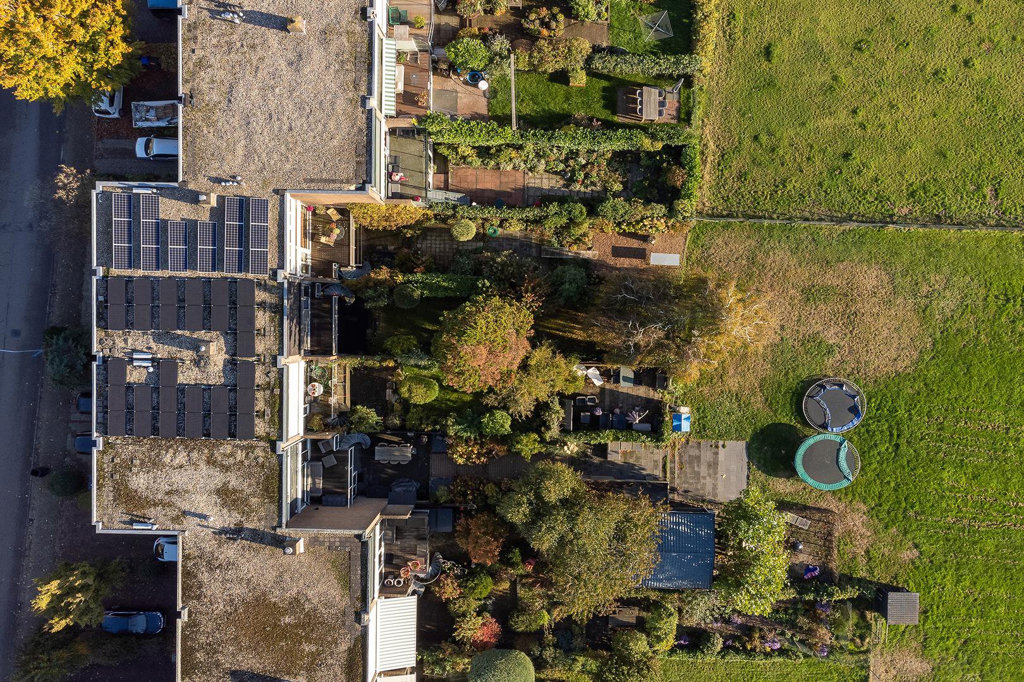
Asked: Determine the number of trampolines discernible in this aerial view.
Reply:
2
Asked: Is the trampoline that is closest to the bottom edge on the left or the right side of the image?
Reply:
right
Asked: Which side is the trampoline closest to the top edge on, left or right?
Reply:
right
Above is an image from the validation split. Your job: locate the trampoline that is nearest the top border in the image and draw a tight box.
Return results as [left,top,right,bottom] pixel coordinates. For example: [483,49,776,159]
[802,374,866,435]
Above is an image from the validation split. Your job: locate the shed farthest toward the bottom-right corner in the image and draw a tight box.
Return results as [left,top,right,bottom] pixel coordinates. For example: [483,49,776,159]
[877,586,918,625]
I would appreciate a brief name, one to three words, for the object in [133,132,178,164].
car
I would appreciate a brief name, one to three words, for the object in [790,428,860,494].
trampoline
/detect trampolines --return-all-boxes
[802,374,866,435]
[790,428,860,494]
